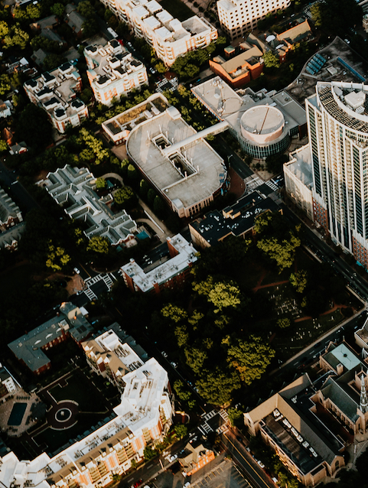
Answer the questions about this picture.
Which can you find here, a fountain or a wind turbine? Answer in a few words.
fountain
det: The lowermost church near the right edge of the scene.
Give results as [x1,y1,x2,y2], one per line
[239,341,368,482]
